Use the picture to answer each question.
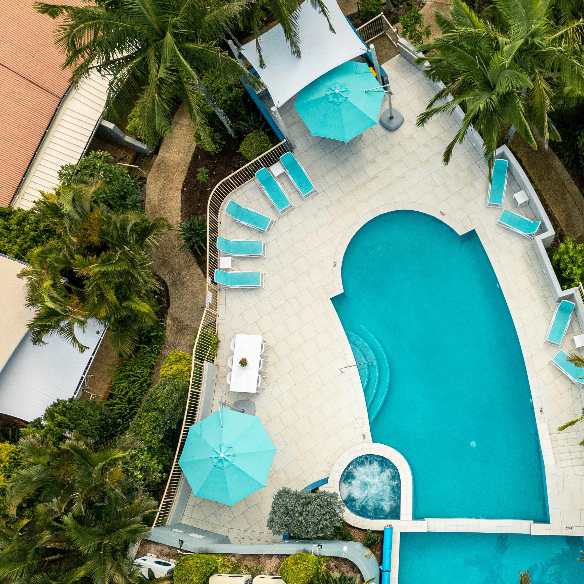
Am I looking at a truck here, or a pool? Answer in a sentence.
Of the two, only a pool appears.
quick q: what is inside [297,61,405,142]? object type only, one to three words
umbrella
